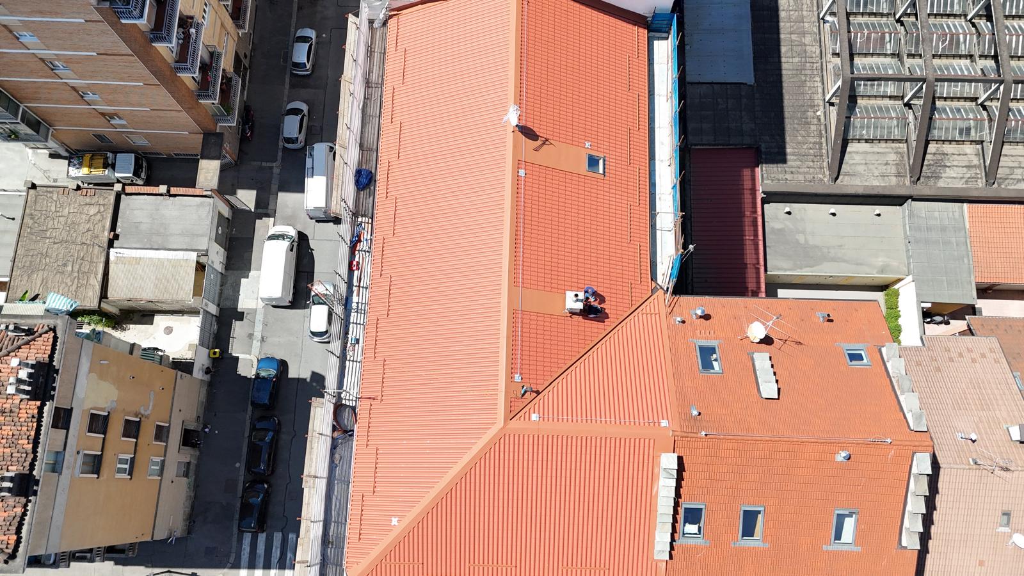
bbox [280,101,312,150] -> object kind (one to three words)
car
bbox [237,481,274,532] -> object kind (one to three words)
car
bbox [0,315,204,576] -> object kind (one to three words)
house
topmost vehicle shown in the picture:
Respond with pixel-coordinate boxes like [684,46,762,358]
[289,27,321,77]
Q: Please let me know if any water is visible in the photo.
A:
No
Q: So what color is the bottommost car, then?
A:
black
